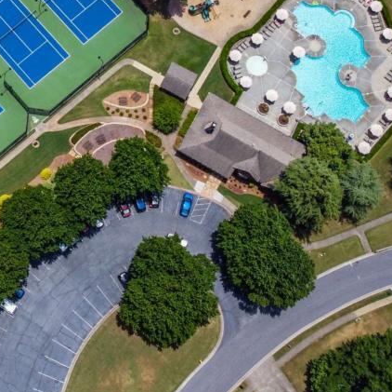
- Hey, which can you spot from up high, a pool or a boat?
pool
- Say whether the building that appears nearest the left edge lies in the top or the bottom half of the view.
top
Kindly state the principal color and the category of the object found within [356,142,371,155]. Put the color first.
white umbrella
